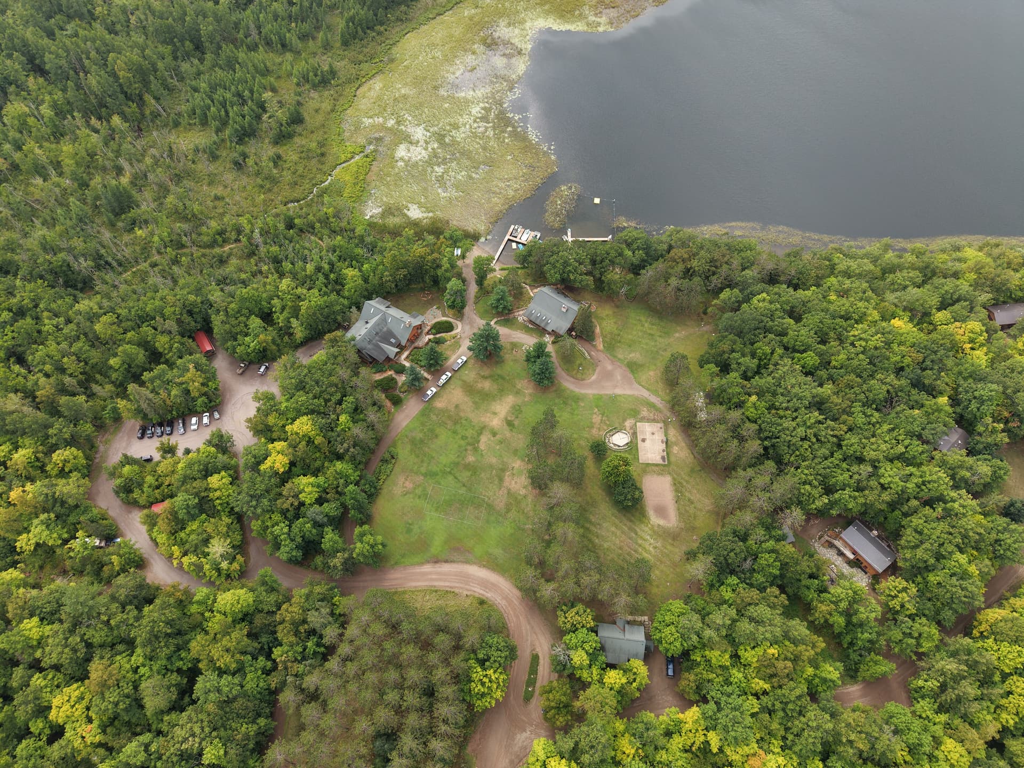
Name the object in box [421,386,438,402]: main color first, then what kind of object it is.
white vehicle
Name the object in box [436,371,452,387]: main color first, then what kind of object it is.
white vehicle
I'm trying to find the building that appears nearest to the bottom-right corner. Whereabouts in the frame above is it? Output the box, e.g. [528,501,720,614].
[818,521,896,575]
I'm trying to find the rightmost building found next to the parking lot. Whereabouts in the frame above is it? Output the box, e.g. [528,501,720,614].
[344,297,432,367]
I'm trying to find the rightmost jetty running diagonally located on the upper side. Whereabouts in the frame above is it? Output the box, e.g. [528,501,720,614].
[491,225,534,266]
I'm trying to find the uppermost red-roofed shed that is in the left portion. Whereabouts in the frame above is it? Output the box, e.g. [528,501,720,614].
[195,331,218,360]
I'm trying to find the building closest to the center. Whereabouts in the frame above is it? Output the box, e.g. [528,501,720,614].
[523,286,584,339]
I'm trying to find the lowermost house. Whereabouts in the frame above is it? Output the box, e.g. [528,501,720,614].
[596,617,653,667]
